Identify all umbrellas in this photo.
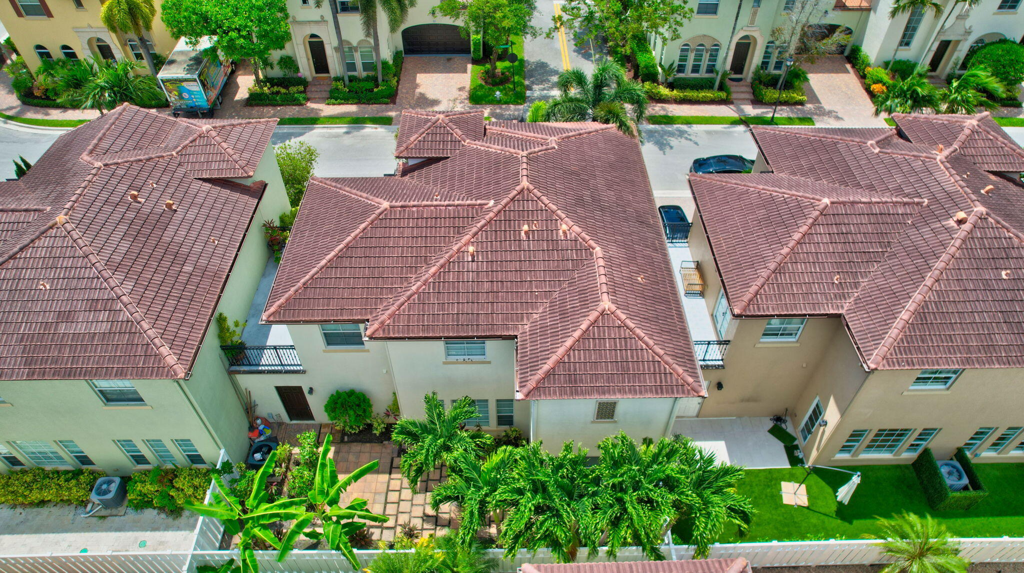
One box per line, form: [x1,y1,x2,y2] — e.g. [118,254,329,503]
[780,461,857,508]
